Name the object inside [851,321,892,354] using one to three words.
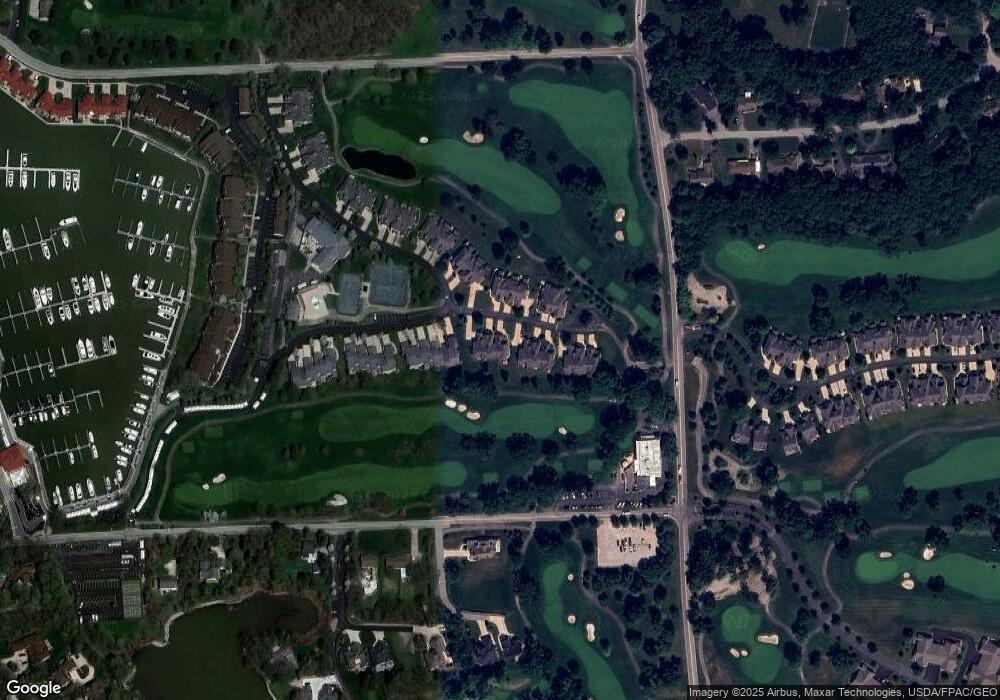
house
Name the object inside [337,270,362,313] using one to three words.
tennis court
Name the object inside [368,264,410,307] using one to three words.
tennis court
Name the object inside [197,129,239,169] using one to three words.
building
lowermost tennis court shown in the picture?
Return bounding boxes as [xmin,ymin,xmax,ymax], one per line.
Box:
[122,581,142,619]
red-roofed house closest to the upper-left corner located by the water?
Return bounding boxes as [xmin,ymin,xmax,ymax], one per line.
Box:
[0,56,42,104]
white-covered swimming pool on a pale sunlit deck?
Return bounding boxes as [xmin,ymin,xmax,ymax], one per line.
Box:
[299,281,333,320]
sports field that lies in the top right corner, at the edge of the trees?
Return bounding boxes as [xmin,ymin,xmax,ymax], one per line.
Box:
[809,0,849,49]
